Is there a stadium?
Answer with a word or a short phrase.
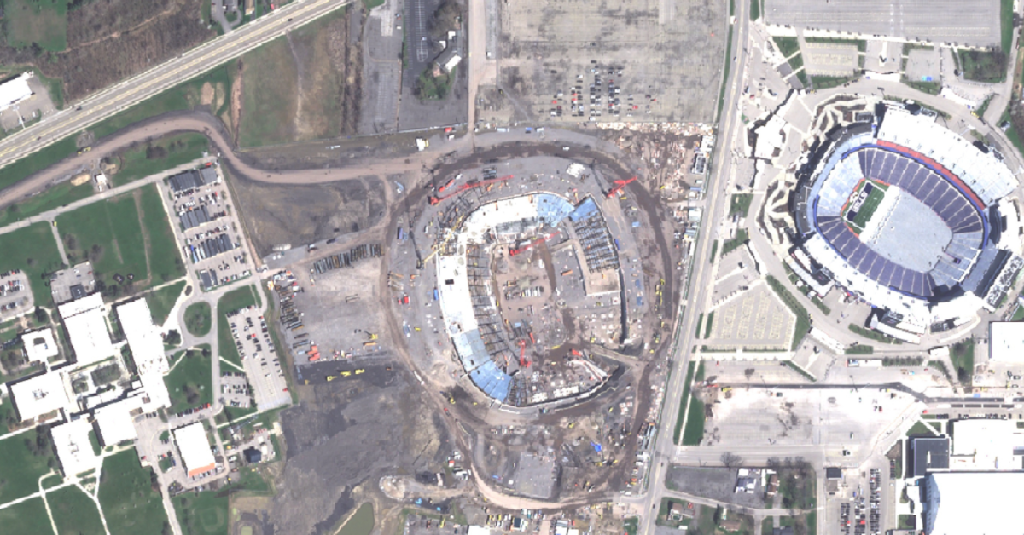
Yes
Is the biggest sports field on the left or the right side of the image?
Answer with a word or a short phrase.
right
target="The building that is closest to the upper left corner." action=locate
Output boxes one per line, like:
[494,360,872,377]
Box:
[0,71,33,109]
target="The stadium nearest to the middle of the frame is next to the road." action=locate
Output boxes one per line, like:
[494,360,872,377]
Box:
[434,176,632,412]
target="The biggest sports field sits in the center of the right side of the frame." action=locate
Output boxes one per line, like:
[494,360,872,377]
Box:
[841,178,952,274]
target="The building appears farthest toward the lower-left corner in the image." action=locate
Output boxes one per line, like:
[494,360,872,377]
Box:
[48,419,96,478]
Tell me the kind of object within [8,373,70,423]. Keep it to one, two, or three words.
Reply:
building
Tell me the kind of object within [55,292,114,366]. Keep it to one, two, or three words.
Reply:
building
